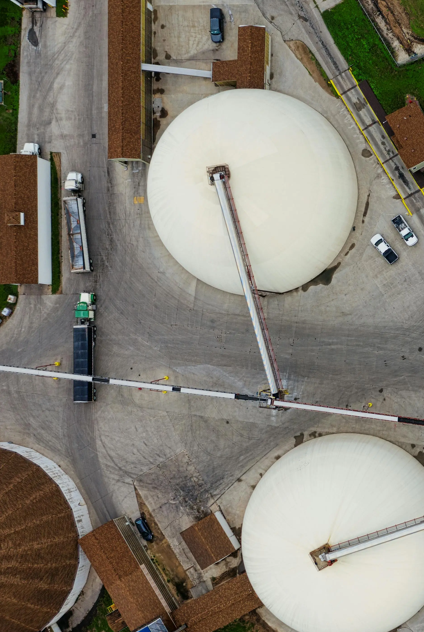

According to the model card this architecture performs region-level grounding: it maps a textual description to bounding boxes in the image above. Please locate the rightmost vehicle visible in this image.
[391,213,417,245]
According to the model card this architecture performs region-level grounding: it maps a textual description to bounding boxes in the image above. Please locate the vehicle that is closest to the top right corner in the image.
[208,7,223,40]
